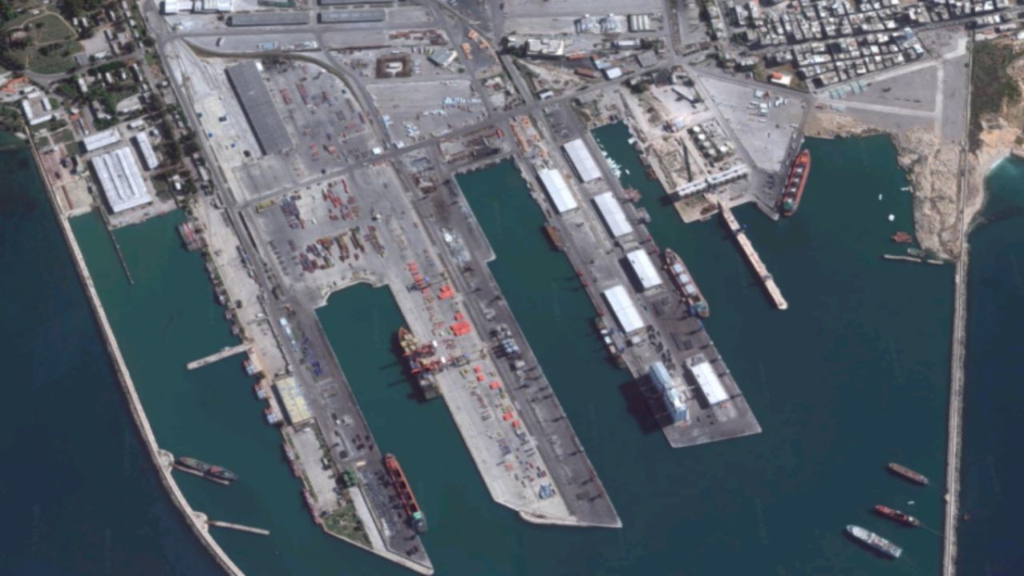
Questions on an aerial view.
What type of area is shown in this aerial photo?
port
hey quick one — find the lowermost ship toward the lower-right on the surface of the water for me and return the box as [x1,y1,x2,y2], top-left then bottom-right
[846,525,902,560]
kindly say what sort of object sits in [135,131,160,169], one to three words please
building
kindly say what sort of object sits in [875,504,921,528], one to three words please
ship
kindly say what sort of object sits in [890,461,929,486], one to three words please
ship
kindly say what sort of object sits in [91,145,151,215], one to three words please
building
